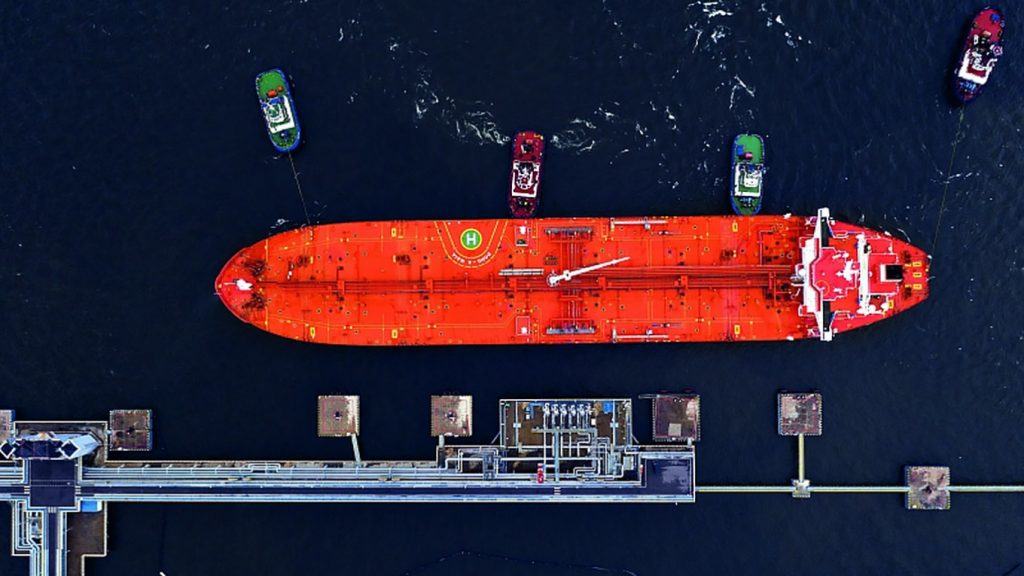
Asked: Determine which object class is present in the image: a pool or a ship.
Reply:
ship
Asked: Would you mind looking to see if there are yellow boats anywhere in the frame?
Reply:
No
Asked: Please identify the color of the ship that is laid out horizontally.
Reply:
red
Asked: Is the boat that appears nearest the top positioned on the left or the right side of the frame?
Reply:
right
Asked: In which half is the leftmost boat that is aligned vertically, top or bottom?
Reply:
top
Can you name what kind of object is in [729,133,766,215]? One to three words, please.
boat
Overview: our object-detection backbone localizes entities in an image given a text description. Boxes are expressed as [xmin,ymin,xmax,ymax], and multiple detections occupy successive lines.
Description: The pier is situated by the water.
[0,399,695,576]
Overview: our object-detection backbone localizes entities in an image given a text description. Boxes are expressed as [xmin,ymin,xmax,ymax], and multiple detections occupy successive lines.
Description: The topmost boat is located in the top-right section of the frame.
[948,5,1003,104]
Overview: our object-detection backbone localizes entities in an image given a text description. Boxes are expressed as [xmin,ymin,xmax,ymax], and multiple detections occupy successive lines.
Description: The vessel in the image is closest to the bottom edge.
[212,207,932,346]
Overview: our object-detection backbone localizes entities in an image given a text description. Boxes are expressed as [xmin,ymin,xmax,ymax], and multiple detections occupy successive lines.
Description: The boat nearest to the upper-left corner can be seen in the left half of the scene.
[256,68,302,155]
